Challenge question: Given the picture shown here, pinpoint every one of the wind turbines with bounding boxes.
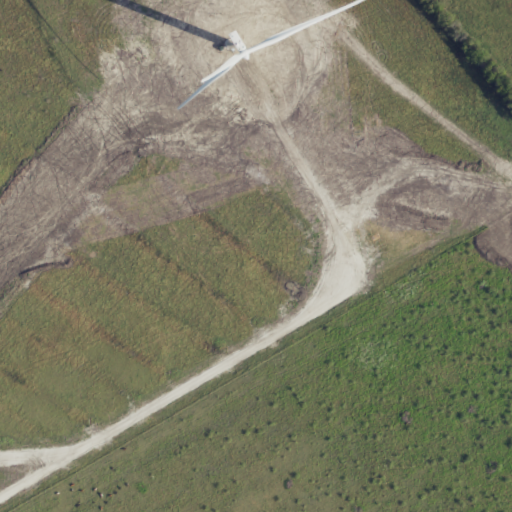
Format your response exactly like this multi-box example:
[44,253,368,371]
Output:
[180,0,368,107]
